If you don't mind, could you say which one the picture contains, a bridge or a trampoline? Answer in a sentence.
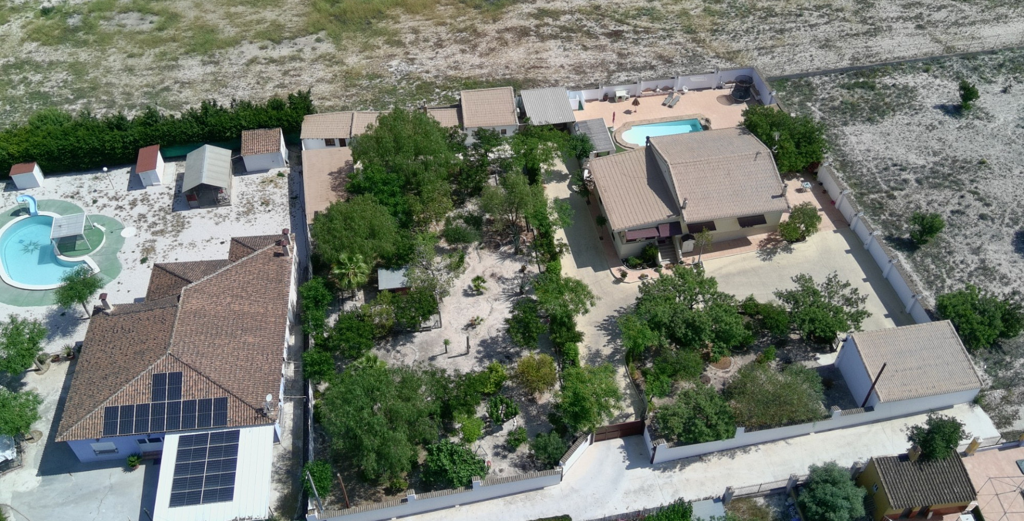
There is a trampoline in the scene.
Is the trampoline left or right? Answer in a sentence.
The trampoline is on the right side of the image.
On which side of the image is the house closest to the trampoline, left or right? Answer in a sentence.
The house closest to the trampoline sits on the right side.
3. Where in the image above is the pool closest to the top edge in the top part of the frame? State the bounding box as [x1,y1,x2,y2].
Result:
[613,111,714,149]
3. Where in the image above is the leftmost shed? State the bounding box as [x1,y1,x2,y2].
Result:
[9,161,44,189]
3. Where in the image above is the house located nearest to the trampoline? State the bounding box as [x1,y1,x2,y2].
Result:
[587,126,793,263]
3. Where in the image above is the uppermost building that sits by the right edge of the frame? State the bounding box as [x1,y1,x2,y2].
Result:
[838,314,987,421]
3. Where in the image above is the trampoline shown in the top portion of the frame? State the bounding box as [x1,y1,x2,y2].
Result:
[730,75,756,105]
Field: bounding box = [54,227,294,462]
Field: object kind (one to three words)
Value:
house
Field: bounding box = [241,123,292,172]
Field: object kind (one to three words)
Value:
shed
